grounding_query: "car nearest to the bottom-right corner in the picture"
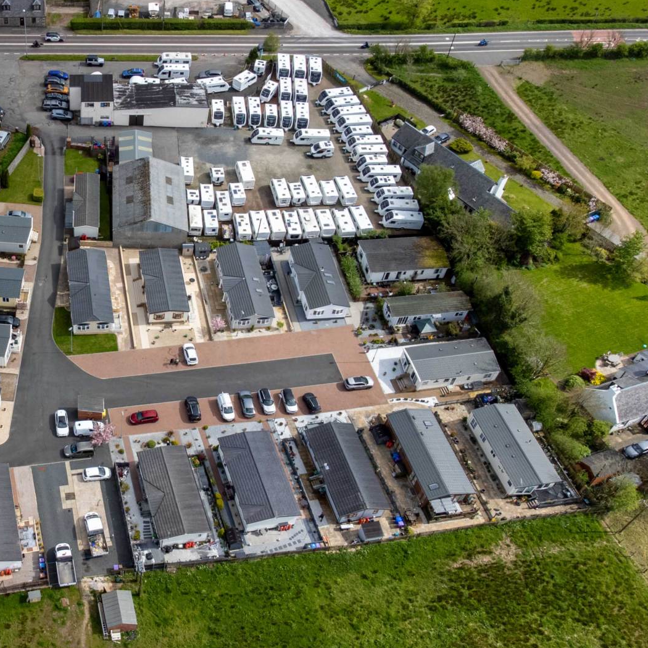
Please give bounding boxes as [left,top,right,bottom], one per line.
[620,439,648,461]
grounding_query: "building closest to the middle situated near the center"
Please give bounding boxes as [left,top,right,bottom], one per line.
[288,242,351,319]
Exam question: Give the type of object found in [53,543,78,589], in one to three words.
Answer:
truck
